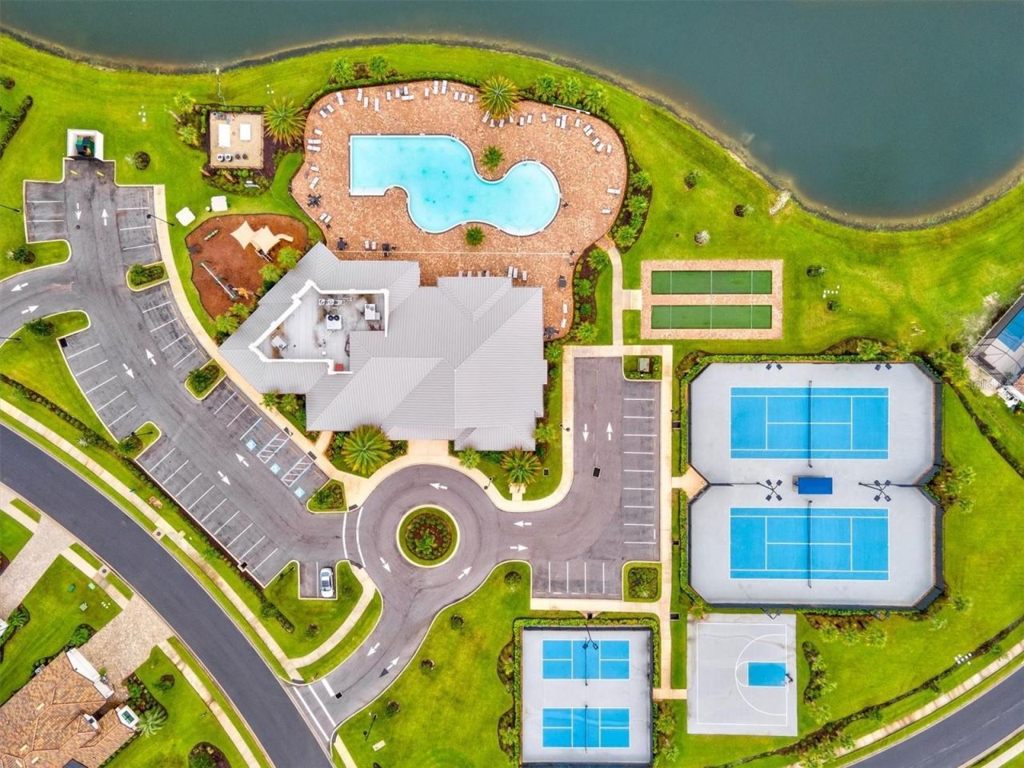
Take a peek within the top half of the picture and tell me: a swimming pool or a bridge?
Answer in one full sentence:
What appears within the top half of the picture is a swimming pool.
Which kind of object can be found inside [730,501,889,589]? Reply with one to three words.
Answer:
tennis court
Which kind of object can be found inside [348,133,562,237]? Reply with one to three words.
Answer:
swimming pool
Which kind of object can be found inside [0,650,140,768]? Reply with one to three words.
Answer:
house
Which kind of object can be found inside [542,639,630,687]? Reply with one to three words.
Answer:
sports court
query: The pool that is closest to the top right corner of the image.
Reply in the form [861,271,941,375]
[996,310,1024,353]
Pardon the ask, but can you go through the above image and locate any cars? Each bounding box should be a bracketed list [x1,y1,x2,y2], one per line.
[318,567,333,598]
